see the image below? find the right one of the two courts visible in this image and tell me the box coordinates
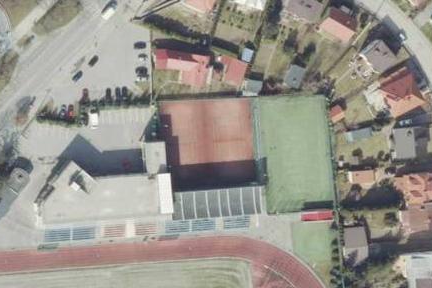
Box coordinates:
[207,98,253,187]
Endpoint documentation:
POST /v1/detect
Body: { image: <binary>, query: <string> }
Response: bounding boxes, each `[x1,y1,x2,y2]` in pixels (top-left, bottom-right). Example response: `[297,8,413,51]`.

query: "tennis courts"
[207,98,253,187]
[159,99,209,190]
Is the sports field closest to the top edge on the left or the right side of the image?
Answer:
right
